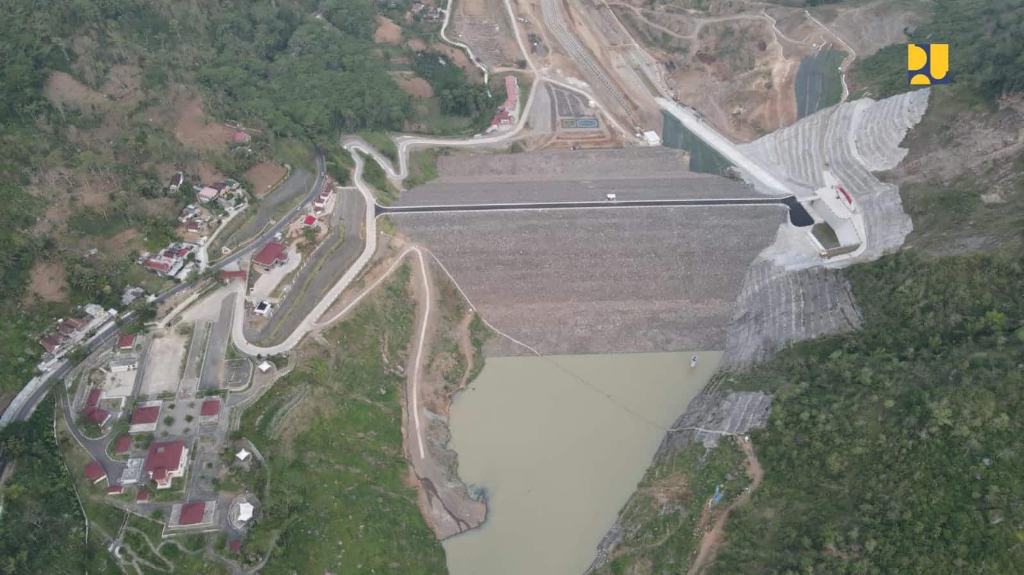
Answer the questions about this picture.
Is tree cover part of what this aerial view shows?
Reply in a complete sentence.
Yes, tree cover can be seen from above here.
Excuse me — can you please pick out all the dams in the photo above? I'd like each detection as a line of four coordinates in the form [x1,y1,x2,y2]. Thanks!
[375,147,812,357]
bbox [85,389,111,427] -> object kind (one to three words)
building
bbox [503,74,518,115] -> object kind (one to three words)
house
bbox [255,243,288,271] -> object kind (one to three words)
house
